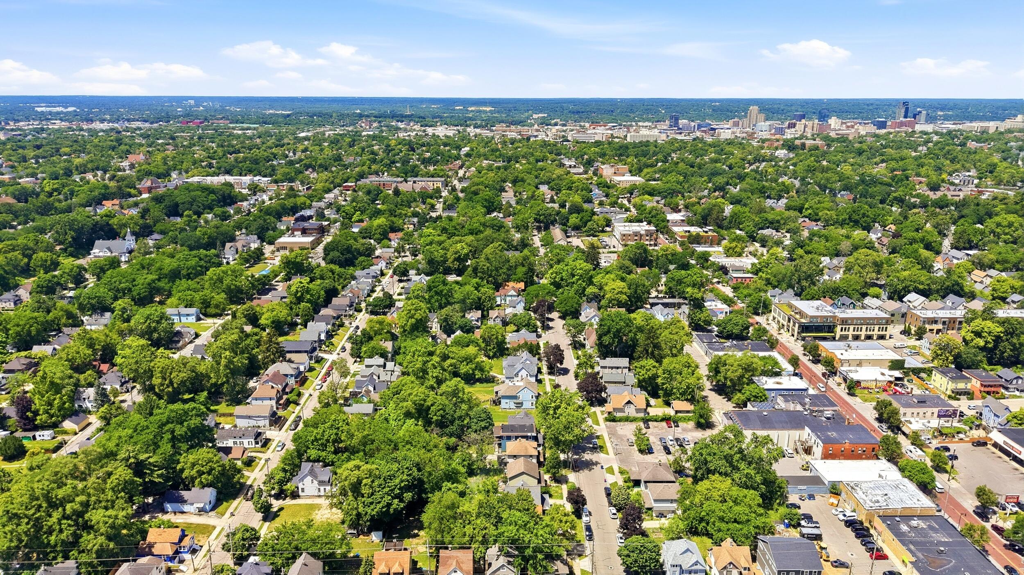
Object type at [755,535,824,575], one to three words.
house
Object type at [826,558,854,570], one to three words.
vehicle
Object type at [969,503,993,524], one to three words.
vehicle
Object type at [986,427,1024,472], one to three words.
building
